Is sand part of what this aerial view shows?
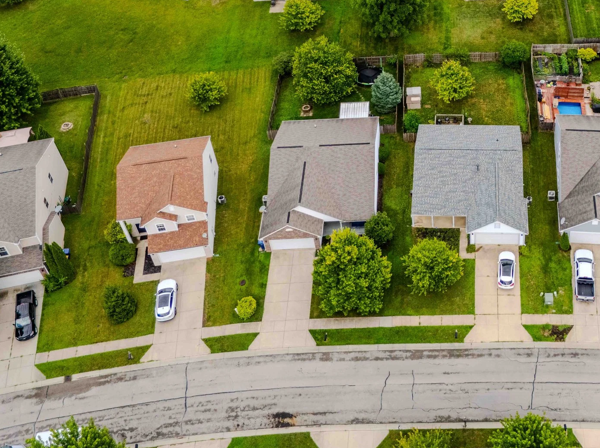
No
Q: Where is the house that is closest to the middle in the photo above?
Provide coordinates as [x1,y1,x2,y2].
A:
[258,119,378,257]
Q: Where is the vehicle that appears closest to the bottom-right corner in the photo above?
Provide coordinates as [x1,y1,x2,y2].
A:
[574,250,596,302]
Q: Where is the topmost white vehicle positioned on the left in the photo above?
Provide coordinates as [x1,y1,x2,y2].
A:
[154,281,180,322]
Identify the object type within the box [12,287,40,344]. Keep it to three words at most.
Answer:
truck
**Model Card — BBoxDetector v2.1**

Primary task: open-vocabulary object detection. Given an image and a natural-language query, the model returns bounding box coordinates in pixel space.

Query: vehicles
[154,281,180,322]
[12,287,40,344]
[496,251,517,291]
[33,427,59,448]
[574,250,596,302]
